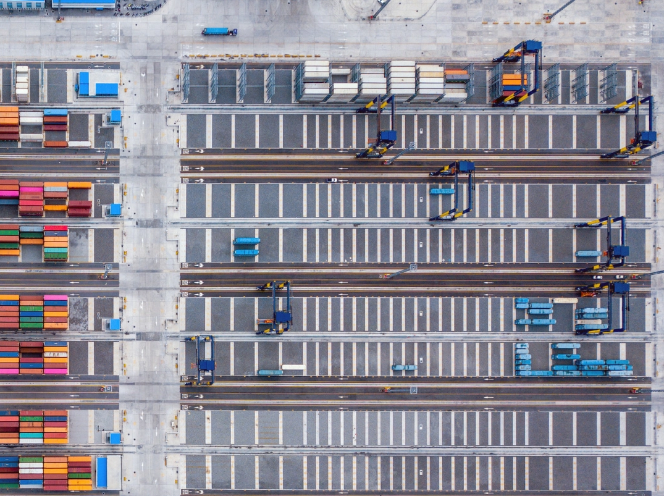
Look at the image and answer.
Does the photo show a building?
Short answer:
Yes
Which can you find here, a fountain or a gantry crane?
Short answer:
gantry crane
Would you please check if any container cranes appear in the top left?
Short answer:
No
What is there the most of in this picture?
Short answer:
paved ground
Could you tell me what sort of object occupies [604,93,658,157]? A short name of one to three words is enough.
container crane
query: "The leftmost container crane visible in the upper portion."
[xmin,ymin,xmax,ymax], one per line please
[358,93,398,157]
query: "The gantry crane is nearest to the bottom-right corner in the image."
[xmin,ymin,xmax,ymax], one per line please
[578,280,631,335]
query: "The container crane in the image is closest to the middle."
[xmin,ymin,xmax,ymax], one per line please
[258,280,291,335]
